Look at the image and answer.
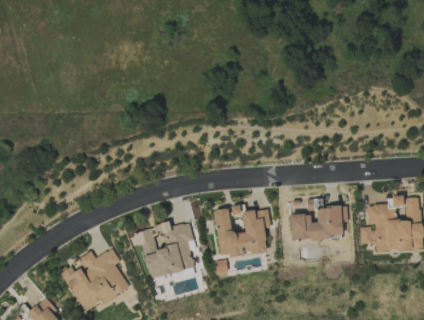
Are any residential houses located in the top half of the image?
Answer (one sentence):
No, looking in the top half of the image, there is no residential house.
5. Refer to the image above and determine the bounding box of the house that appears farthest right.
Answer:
[360,196,424,255]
